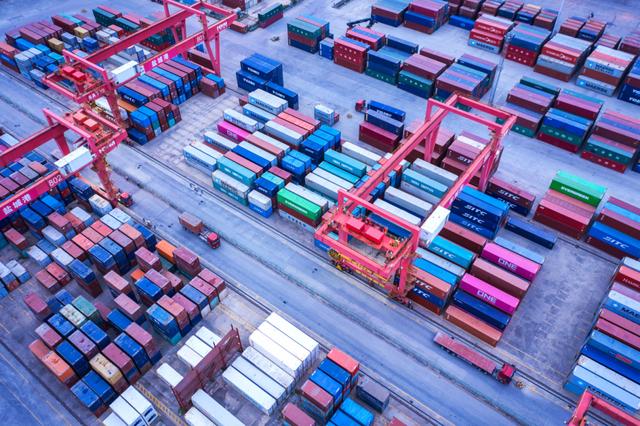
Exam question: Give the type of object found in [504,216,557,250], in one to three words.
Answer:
shipping container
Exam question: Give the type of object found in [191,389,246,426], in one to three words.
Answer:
shipping container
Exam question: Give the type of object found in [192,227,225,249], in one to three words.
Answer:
truck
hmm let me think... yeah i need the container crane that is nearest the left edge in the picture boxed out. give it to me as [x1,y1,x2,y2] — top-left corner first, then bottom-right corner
[0,106,128,219]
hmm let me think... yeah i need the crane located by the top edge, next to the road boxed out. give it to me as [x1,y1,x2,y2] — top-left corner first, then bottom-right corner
[41,0,239,141]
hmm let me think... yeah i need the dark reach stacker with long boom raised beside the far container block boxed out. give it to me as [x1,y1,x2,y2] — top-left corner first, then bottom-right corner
[346,11,382,32]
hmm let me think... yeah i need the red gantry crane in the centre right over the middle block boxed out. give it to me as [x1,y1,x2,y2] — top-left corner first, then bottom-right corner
[312,93,520,305]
